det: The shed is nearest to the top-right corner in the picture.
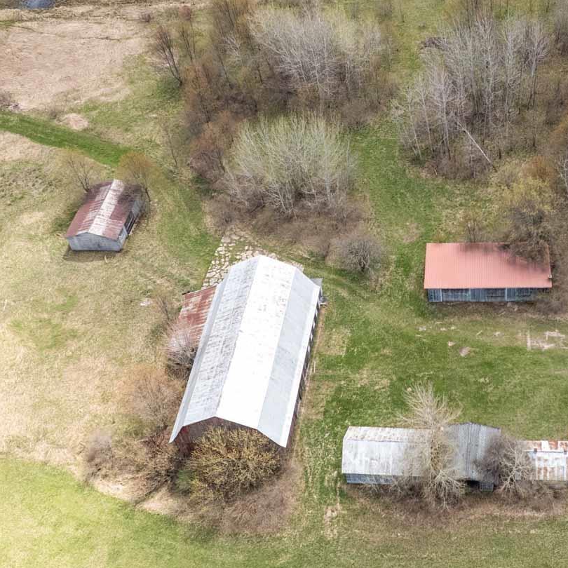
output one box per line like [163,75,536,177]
[423,243,552,303]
